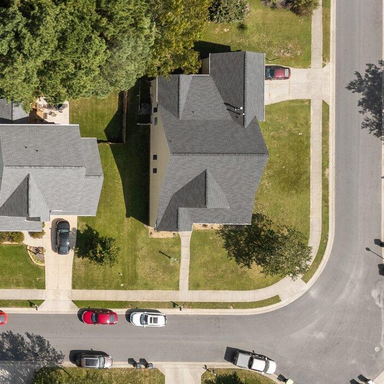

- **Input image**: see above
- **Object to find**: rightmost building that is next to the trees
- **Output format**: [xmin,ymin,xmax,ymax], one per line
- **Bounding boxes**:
[150,48,267,233]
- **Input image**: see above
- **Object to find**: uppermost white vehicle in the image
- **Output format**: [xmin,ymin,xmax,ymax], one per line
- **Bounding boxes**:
[130,311,167,328]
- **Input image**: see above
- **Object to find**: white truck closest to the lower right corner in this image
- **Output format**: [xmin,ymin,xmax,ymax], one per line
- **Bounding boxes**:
[232,350,275,373]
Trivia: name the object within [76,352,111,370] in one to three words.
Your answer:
car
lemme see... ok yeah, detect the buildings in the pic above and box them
[150,48,267,233]
[0,98,105,232]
